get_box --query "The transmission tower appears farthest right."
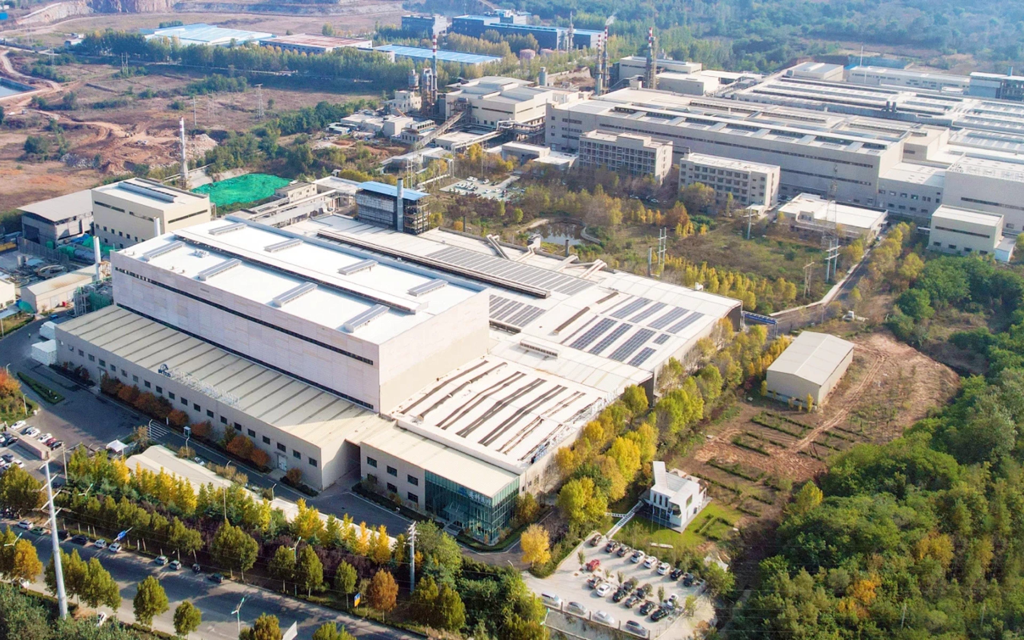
[254,83,266,118]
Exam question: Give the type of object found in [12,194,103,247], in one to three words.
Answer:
building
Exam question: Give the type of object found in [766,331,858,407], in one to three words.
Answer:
building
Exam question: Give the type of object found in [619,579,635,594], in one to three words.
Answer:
car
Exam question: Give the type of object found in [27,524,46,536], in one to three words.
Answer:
vehicle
